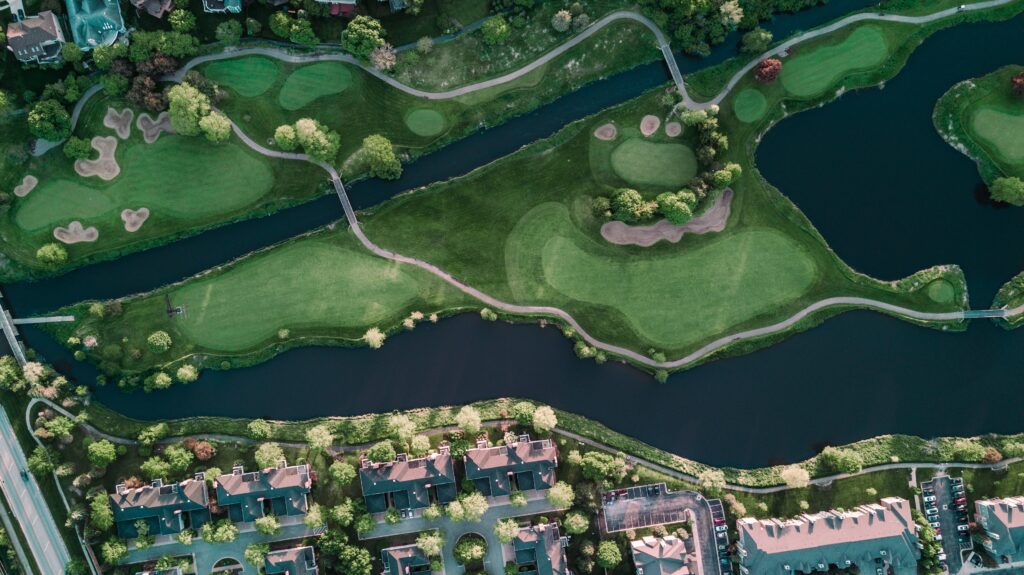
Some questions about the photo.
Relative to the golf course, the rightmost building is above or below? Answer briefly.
below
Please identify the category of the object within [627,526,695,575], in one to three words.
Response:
building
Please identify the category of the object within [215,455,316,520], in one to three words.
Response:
house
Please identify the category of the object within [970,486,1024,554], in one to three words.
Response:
building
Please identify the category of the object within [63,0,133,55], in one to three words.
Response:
house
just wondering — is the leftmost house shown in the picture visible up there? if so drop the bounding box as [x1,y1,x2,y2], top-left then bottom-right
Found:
[3,9,66,69]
